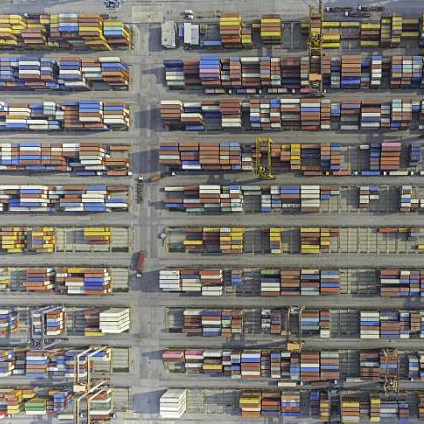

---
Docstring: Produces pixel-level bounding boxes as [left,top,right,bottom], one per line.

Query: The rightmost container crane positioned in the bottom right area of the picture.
[376,346,401,397]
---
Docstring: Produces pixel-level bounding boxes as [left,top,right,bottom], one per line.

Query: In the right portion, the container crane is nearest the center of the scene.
[255,136,279,182]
